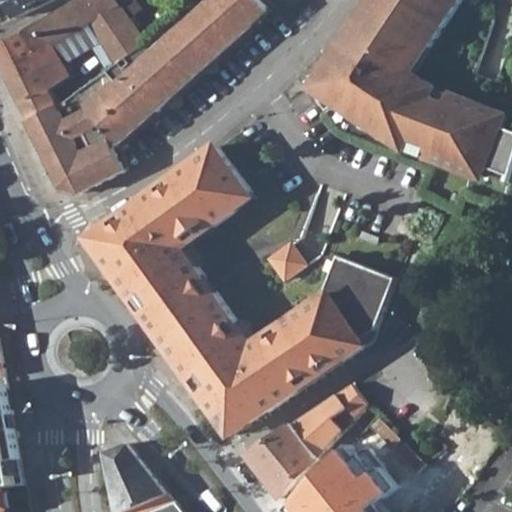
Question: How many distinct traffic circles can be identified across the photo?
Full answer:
In total, there is 1 traffic circle in the scene.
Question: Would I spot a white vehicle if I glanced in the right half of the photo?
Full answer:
Yes, there is a white vehicle in the right half of the photo.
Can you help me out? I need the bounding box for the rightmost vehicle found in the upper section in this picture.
[401,167,417,188]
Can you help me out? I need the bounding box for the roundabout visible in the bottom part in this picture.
[46,318,110,384]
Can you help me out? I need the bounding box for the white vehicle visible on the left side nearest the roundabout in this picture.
[27,334,40,356]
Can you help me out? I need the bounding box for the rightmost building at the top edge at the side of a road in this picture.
[304,0,508,182]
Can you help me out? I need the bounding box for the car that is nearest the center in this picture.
[284,176,302,192]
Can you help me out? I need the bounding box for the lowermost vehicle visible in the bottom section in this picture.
[199,487,227,512]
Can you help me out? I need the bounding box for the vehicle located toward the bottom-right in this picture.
[396,404,415,416]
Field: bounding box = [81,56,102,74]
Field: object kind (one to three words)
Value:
vehicle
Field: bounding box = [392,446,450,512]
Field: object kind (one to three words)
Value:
building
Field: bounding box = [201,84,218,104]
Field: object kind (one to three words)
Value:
car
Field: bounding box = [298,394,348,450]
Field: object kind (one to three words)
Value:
house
